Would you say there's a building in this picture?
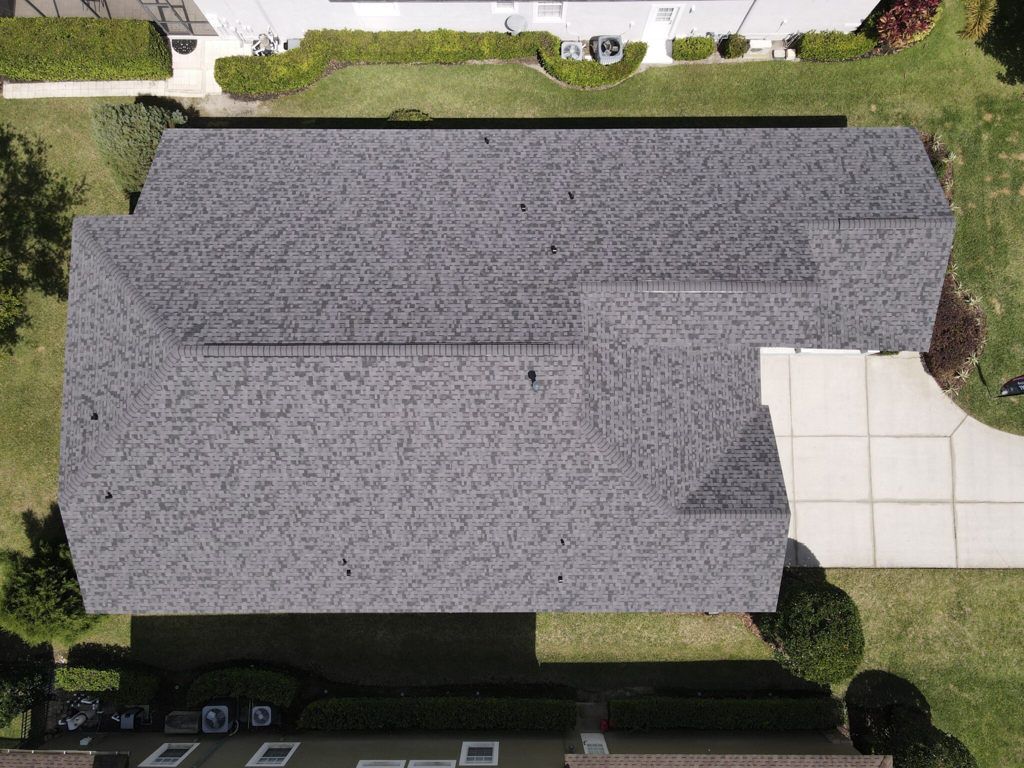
Yes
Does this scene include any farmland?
No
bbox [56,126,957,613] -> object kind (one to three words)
house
